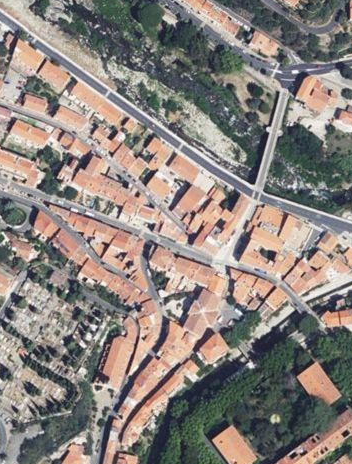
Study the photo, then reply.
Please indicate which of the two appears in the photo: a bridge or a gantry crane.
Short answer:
bridge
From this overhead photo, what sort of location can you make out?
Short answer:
residential area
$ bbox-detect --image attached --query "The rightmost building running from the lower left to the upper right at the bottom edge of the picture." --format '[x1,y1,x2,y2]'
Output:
[275,407,352,464]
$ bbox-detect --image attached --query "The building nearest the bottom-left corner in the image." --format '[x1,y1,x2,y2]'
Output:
[59,437,91,464]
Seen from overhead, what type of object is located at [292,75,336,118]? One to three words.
house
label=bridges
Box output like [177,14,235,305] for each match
[253,87,289,197]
